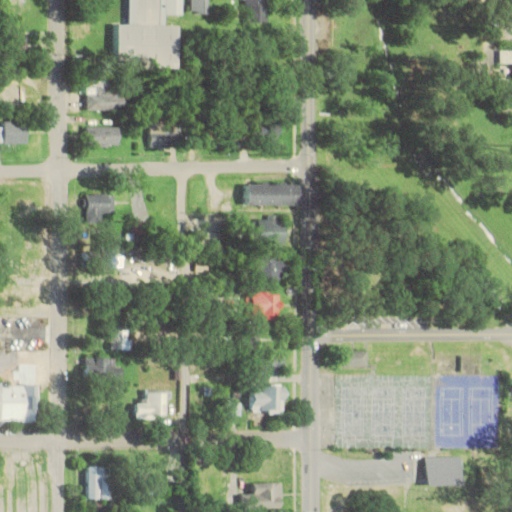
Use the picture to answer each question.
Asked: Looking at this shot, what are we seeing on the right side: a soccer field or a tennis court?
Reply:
tennis court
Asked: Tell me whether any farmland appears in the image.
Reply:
No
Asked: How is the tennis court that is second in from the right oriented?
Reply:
up and down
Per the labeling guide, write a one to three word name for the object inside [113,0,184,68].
building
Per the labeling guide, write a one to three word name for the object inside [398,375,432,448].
tennis court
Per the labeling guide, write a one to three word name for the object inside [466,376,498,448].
tennis court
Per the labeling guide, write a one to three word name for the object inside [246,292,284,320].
house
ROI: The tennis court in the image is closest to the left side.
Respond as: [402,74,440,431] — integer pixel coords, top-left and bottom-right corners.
[335,375,368,448]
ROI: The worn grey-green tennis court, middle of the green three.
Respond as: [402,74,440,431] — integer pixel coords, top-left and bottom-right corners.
[368,375,398,448]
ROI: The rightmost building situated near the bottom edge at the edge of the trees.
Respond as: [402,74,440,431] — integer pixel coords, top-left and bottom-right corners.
[426,458,466,488]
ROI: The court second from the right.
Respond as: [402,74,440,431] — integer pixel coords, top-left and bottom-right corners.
[436,376,466,448]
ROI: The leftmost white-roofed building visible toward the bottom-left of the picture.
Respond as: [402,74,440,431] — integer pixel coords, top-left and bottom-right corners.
[0,364,38,424]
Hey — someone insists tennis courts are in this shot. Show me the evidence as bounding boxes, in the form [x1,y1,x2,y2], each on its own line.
[436,376,466,448]
[398,375,432,448]
[368,375,398,448]
[466,376,498,448]
[335,375,368,448]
